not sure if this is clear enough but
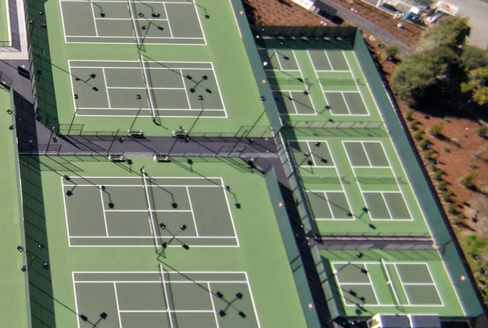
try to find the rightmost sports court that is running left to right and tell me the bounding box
[330,262,446,307]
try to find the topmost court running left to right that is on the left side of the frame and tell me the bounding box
[59,0,207,44]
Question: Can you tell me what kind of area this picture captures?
sports ground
